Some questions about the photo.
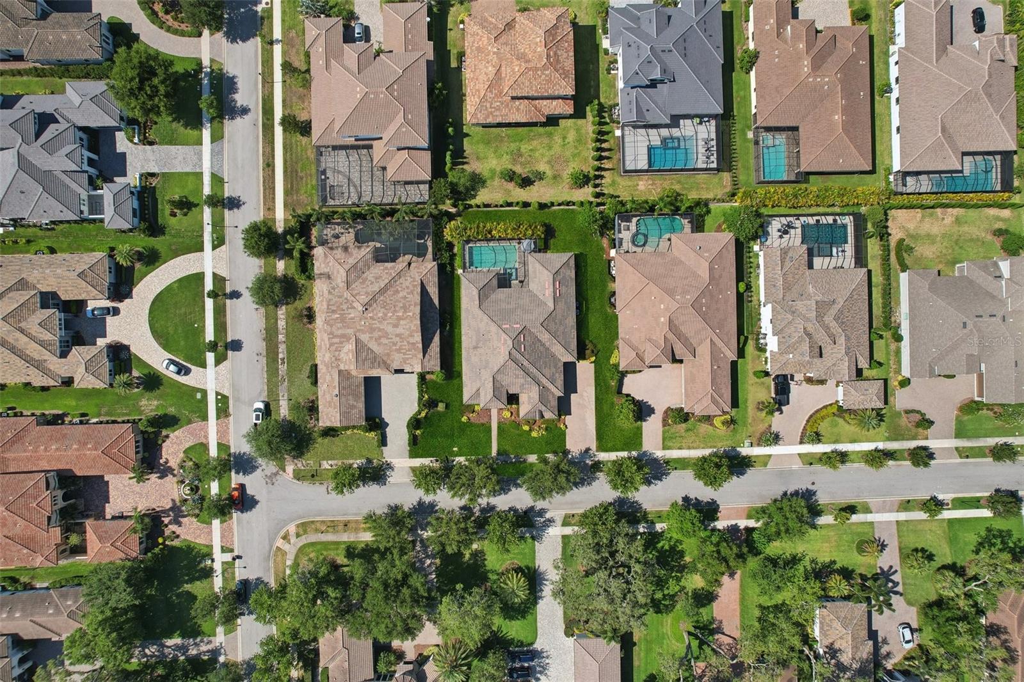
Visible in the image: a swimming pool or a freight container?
swimming pool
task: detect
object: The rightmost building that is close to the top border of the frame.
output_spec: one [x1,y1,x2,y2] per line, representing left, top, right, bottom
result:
[890,0,1018,173]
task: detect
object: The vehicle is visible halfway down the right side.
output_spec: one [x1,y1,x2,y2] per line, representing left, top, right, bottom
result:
[775,376,788,404]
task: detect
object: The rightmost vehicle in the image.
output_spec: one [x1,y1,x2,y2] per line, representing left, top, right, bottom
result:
[973,5,988,31]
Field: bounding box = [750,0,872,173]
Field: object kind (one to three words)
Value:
house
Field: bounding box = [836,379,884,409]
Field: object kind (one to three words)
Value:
building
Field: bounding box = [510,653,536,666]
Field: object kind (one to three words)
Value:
vehicle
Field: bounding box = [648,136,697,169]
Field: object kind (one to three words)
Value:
swimming pool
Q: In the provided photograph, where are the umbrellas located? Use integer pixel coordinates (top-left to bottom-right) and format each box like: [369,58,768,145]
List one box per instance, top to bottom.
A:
[757,232,769,244]
[520,237,536,253]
